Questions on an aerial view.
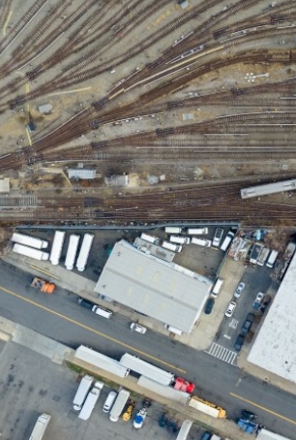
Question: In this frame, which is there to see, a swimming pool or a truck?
truck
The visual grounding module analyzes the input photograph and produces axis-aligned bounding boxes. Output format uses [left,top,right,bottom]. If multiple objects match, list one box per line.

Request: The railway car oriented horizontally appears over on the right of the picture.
[241,179,296,197]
